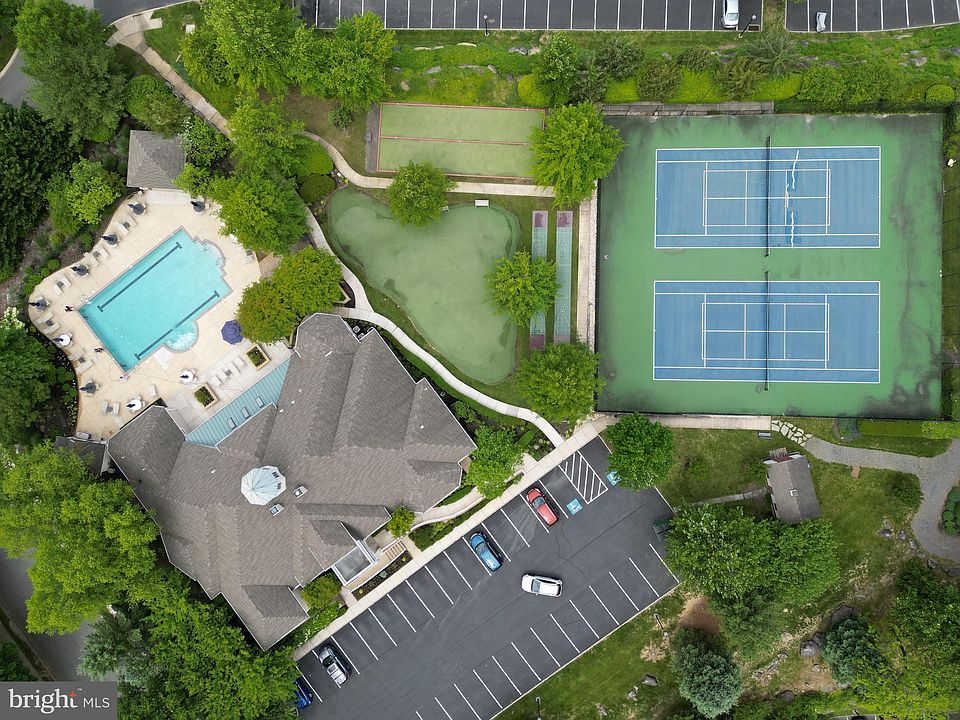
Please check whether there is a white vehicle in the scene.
Yes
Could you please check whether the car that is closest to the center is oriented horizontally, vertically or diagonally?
diagonally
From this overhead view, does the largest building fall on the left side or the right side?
left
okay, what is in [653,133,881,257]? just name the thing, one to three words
tennis court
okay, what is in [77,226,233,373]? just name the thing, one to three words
swimming pool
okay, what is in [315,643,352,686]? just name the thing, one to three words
car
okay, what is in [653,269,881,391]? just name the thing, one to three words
tennis court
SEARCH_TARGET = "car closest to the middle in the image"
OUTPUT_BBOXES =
[525,487,560,525]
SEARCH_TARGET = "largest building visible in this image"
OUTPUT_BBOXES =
[104,311,475,652]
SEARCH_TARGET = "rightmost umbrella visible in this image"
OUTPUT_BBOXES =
[221,320,245,343]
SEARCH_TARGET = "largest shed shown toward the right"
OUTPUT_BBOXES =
[764,448,821,524]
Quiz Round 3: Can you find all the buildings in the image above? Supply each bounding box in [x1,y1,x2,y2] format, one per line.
[764,448,821,524]
[128,130,196,194]
[104,311,475,652]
